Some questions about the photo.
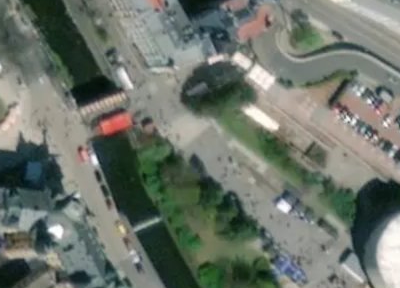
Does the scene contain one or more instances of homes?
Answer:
Yes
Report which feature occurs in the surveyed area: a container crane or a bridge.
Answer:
bridge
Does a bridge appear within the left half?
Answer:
Yes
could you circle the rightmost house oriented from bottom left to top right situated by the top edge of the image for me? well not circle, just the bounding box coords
[234,2,273,45]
